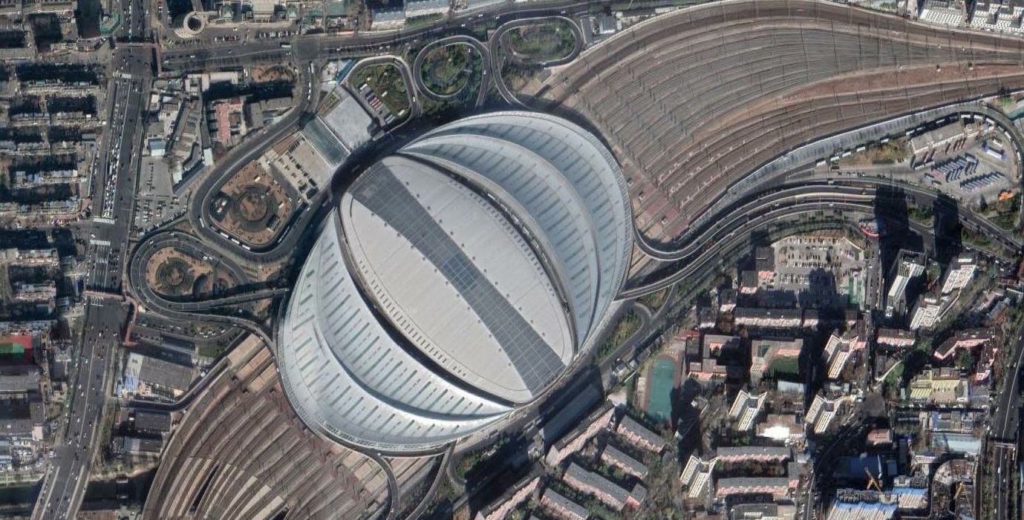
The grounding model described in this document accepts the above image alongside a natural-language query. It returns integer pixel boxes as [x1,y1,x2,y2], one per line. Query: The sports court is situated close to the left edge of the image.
[0,335,33,362]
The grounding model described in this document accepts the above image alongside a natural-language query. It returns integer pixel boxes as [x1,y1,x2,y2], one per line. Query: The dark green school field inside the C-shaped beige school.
[767,352,800,375]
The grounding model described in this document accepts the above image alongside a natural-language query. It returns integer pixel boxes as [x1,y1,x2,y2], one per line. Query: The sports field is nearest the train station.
[639,352,680,432]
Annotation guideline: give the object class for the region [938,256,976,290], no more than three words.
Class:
building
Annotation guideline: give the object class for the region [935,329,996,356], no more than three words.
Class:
building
